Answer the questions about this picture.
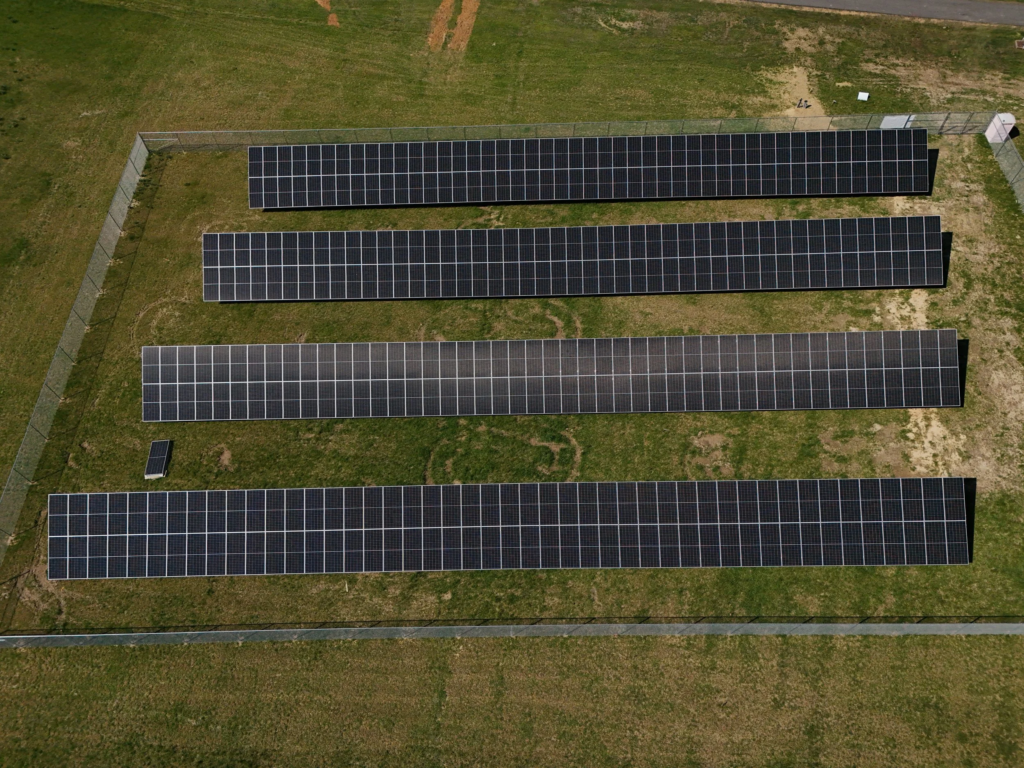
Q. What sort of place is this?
solar farm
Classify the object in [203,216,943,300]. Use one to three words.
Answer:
solar array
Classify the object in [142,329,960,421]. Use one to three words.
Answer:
solar array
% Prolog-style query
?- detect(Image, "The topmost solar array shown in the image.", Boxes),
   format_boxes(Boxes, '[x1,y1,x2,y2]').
[248,129,929,208]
